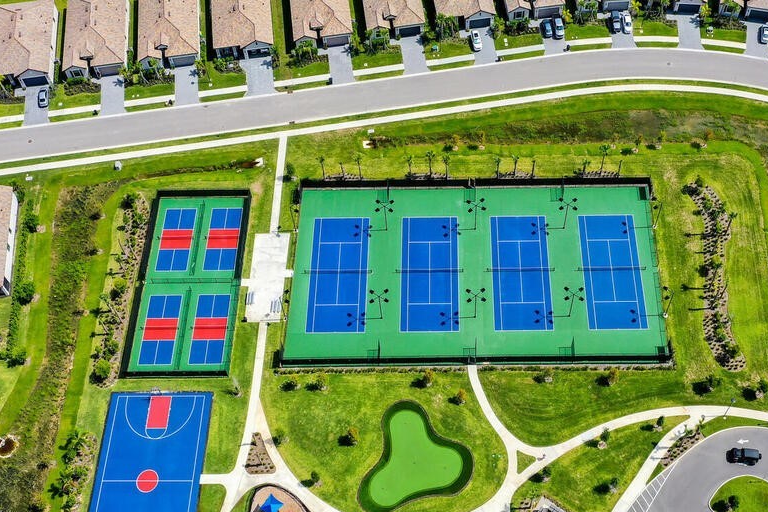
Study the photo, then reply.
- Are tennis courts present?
Yes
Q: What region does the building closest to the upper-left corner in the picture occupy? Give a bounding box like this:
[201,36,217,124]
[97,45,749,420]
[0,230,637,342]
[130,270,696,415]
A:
[0,0,57,85]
